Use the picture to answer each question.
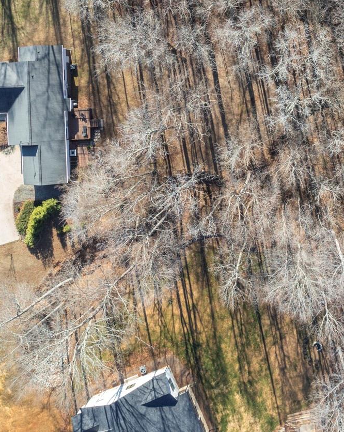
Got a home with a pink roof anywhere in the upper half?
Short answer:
No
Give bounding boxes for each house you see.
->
[70,366,204,432]
[0,44,76,186]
